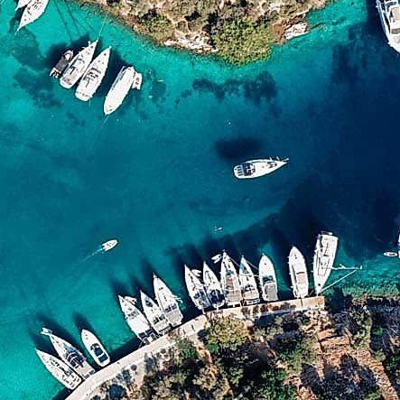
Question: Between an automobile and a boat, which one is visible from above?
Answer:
boat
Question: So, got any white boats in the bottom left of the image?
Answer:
Yes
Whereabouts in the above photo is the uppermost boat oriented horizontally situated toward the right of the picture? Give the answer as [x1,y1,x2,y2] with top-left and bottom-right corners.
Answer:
[233,159,288,178]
